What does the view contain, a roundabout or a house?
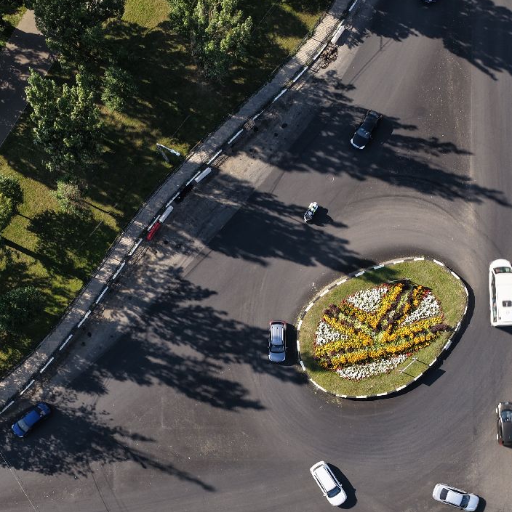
roundabout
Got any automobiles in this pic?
Yes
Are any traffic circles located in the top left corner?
No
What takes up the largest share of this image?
paved ground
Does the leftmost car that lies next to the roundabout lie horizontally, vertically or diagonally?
vertically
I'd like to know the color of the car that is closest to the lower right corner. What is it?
white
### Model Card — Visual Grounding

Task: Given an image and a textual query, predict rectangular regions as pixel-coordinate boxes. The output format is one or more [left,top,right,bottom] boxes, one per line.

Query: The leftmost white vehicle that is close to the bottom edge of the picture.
[311,460,346,509]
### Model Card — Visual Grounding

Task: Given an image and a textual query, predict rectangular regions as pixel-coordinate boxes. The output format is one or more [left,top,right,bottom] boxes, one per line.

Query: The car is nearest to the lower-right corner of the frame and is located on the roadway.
[431,483,480,512]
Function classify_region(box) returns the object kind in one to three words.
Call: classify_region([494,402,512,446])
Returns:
car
